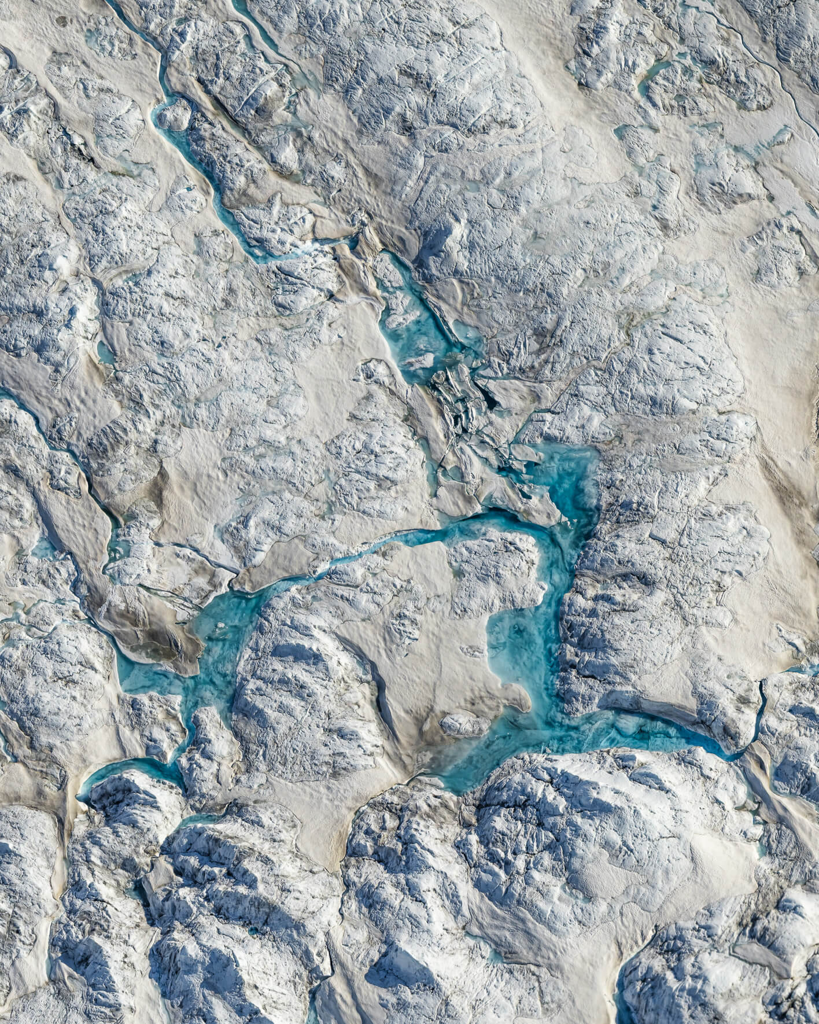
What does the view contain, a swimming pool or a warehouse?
swimming pool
